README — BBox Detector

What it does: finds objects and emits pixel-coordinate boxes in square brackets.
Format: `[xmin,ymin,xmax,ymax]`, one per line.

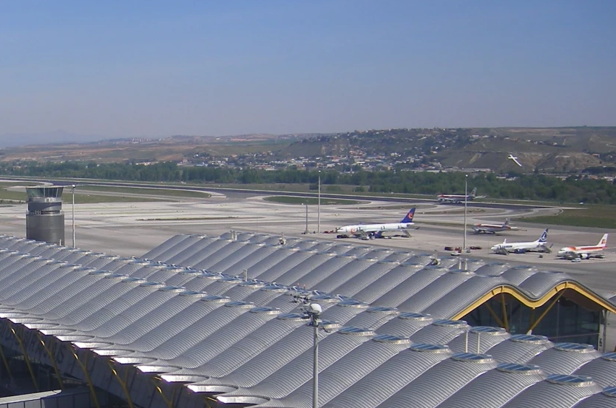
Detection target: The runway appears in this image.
[0,180,572,210]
